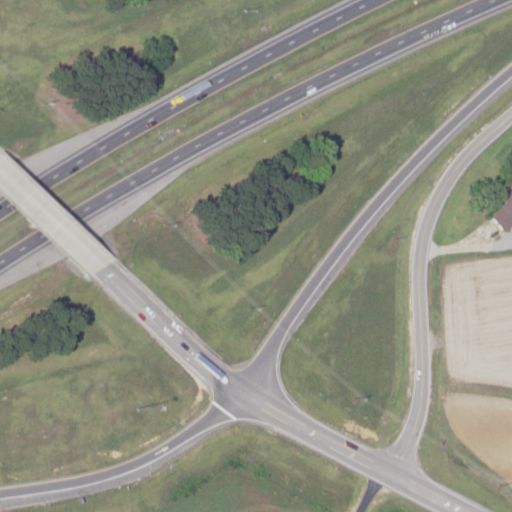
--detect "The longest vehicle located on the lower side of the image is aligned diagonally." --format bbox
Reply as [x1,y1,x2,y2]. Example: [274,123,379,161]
[196,350,230,384]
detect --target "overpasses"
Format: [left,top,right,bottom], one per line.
[0,146,116,280]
